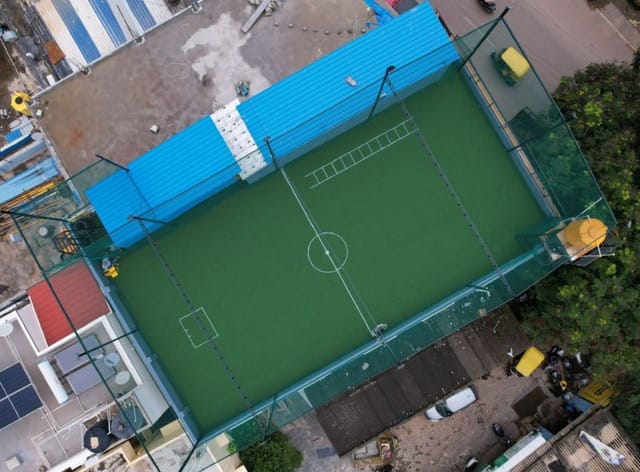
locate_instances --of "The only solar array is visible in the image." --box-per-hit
[0,343,47,428]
